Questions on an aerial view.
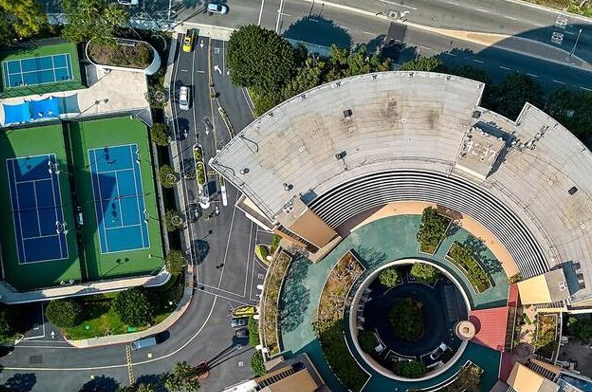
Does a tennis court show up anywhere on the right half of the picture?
No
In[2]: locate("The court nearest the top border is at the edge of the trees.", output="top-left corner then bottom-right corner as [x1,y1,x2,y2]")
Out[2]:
[0,41,83,93]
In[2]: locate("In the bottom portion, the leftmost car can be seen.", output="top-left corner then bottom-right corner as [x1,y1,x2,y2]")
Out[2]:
[132,336,158,349]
